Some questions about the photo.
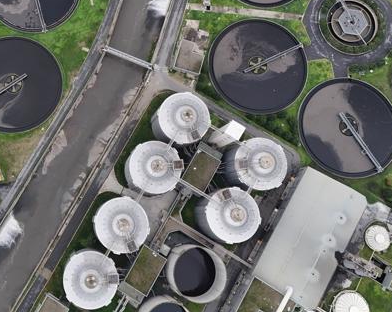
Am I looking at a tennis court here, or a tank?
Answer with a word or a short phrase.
tank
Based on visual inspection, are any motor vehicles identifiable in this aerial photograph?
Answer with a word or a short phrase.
No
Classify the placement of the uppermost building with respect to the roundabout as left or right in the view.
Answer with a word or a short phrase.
to the left of it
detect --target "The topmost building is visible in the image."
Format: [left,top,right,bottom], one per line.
[173,39,204,76]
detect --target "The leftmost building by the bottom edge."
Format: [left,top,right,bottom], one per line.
[36,292,69,312]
